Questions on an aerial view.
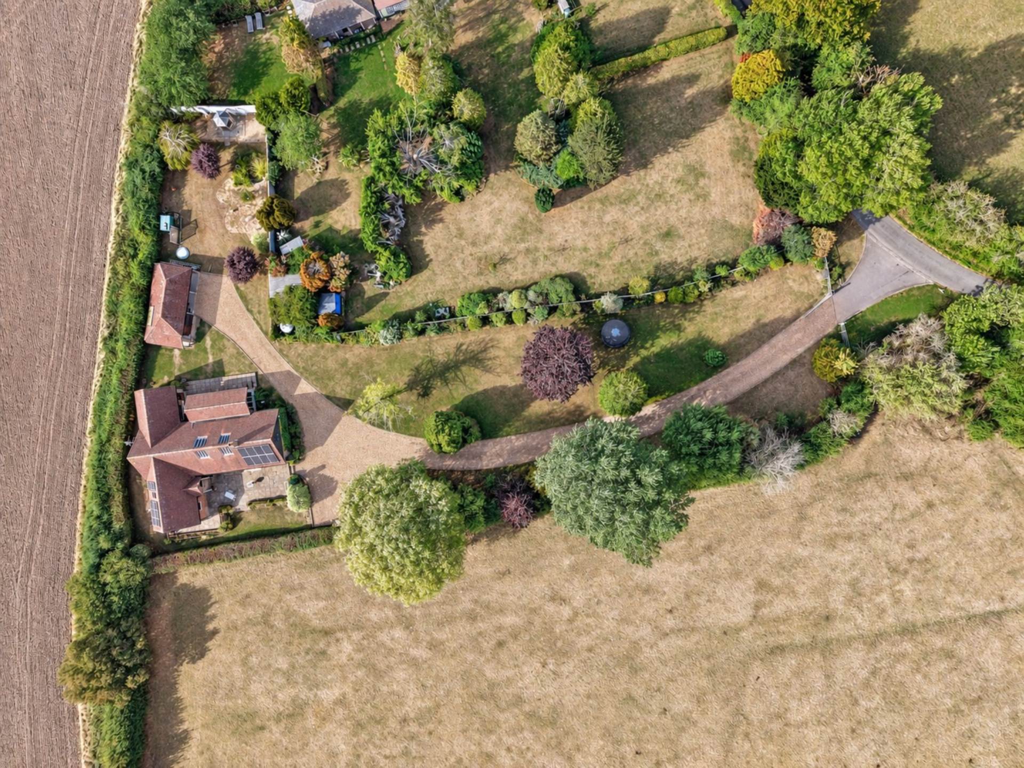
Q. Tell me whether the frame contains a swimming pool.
No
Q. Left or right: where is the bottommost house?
left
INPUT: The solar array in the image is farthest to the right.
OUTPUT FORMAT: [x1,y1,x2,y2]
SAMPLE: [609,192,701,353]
[236,443,280,468]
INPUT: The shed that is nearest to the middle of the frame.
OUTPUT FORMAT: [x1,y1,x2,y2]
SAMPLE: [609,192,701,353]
[319,293,344,315]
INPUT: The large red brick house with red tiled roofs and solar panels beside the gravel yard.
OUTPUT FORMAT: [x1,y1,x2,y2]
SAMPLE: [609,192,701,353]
[126,385,289,530]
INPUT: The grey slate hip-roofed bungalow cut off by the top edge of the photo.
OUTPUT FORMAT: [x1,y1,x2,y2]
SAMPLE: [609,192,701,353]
[300,0,379,41]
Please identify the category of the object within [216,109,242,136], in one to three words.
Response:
gazebo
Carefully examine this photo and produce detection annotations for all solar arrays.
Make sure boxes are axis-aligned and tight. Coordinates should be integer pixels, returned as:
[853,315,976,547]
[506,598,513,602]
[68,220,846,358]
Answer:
[150,500,161,527]
[236,443,280,468]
